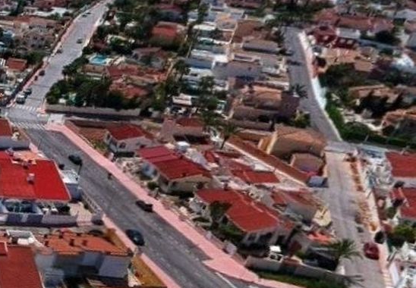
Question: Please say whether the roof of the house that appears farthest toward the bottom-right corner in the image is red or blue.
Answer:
red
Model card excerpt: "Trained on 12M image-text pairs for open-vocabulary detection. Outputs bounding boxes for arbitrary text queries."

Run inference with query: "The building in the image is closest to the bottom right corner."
[363,183,416,236]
